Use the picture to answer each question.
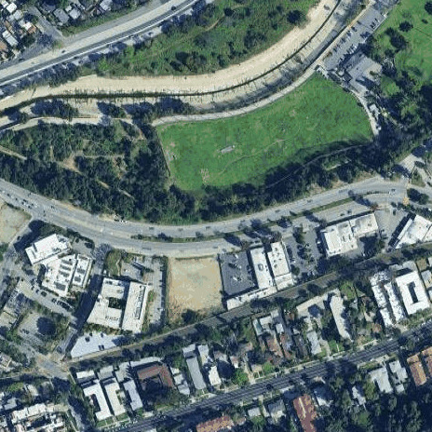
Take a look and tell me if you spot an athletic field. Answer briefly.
Yes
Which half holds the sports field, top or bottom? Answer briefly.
top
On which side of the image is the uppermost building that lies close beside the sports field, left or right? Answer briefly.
right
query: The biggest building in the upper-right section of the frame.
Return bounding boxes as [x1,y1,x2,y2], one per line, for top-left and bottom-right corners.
[346,52,383,84]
